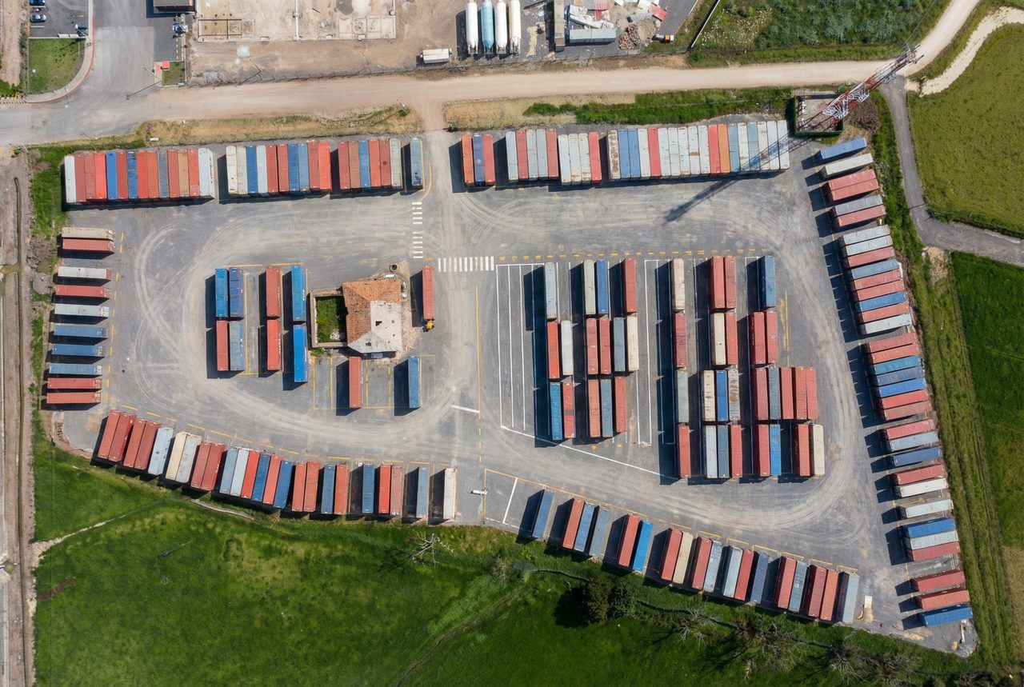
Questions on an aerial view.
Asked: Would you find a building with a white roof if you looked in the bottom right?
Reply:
No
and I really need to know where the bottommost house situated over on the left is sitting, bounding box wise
[344,279,403,353]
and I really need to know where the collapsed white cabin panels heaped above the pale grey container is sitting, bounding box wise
[568,4,615,29]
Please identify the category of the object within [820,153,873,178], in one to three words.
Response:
shipping container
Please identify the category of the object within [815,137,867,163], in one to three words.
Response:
shipping container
